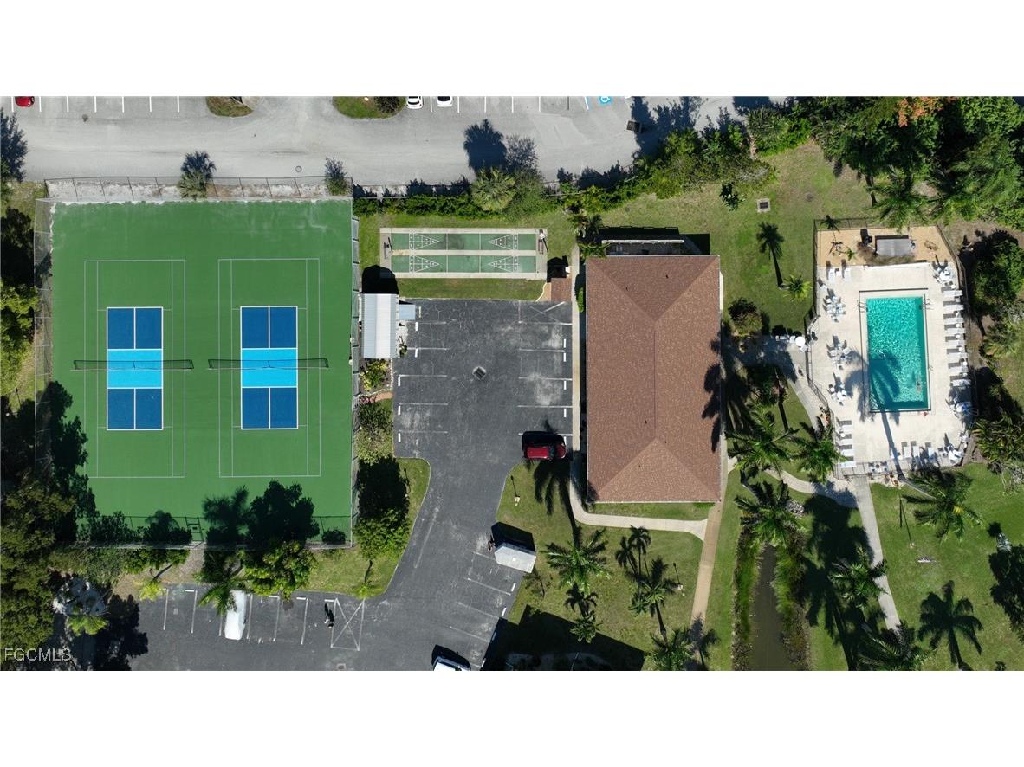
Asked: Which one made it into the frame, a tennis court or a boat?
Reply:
tennis court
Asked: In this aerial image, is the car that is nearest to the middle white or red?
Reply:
red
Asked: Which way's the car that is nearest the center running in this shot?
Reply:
from left to right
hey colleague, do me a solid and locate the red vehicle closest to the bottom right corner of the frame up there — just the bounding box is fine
[525,440,566,460]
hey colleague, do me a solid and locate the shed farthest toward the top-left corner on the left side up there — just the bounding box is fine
[364,292,401,360]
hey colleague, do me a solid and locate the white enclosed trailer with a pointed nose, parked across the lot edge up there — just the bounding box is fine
[489,541,537,573]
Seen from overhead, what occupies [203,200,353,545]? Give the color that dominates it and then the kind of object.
green tennis court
